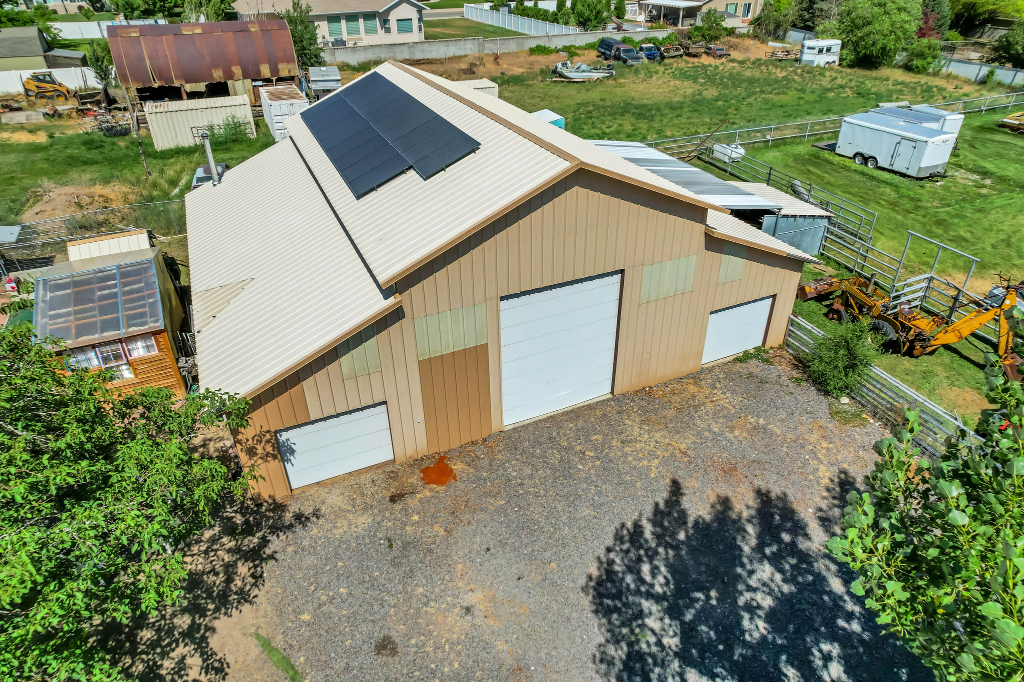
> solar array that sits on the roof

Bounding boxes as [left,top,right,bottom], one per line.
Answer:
[294,72,481,201]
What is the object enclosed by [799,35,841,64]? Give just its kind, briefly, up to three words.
trailer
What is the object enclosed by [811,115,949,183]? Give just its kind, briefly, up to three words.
trailer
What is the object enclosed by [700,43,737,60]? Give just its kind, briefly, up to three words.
car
